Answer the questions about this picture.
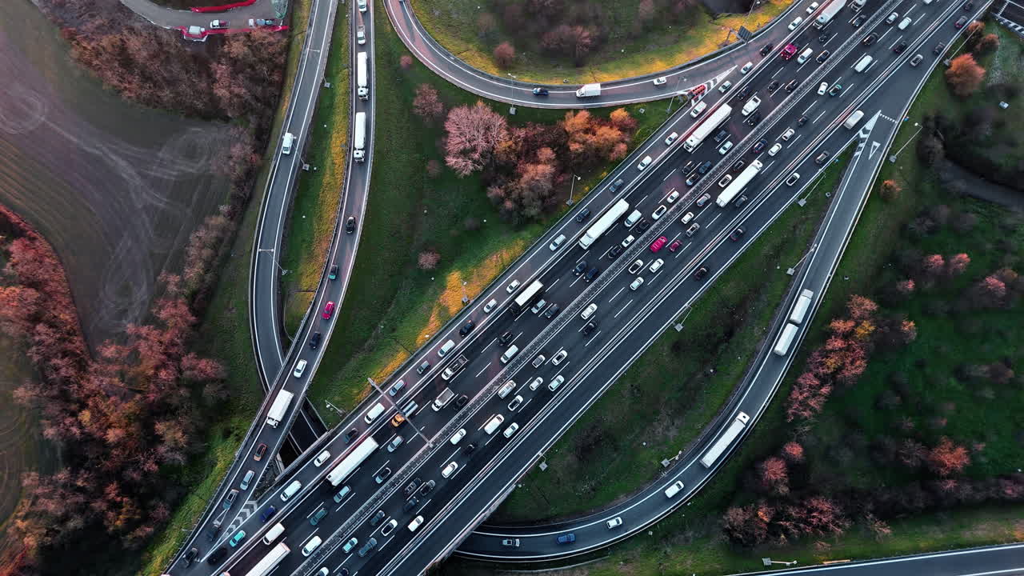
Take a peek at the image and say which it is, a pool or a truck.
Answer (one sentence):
The image shows a truck.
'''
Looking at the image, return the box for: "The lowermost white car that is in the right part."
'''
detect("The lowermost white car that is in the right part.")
[606,516,623,529]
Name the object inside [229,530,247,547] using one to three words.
car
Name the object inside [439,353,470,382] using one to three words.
truck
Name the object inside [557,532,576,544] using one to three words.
vehicle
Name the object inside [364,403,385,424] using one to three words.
vehicle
